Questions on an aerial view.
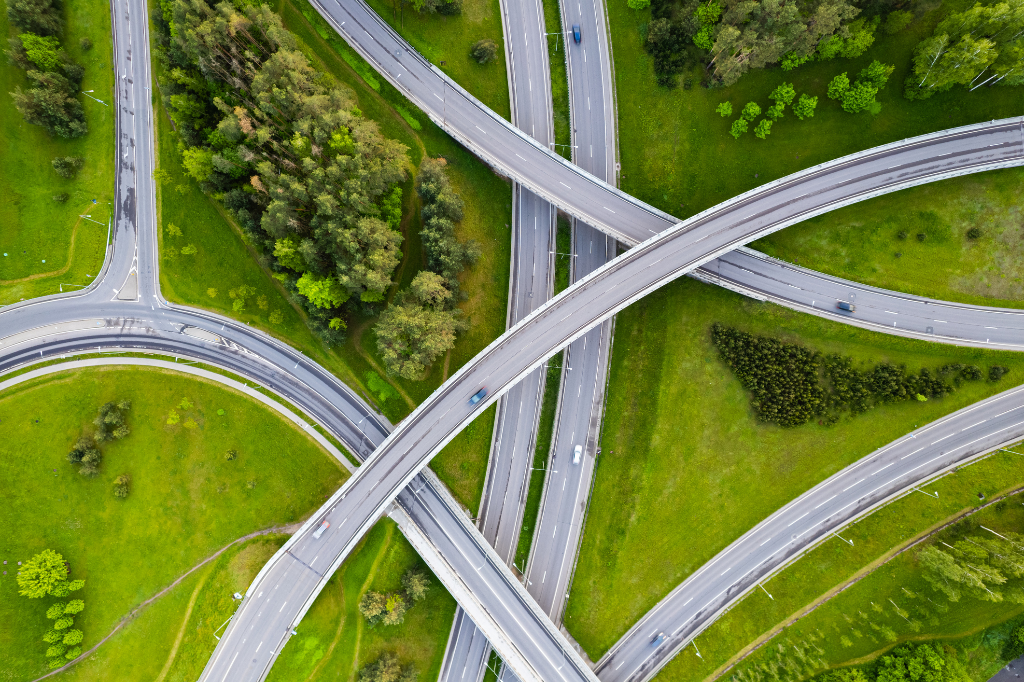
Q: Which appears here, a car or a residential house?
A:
car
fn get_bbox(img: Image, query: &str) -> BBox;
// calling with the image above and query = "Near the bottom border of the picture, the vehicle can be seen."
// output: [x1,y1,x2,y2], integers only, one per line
[650,631,667,648]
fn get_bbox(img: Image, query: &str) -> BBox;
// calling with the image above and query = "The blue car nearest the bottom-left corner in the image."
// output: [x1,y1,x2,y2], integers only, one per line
[468,387,487,404]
